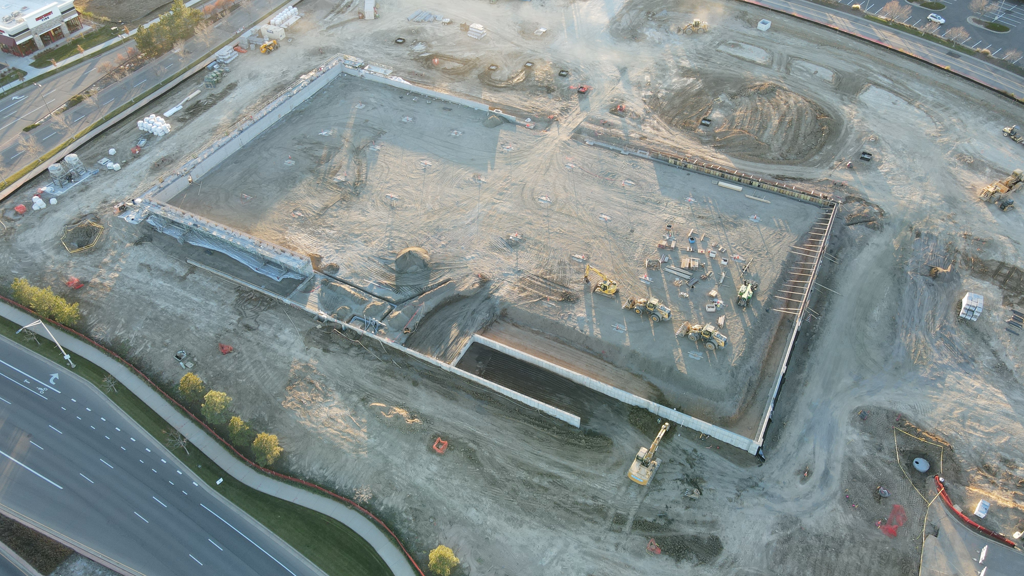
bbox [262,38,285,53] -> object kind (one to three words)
work vehicle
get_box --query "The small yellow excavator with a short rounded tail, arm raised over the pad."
[581,258,621,301]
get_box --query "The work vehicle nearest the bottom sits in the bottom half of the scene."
[629,408,675,485]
